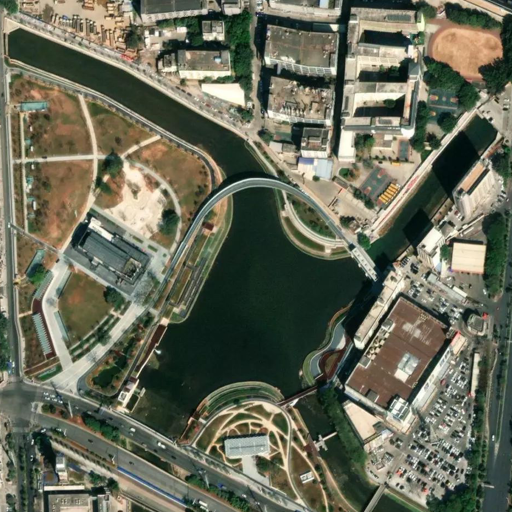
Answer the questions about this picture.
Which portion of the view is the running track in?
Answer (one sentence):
The running track is located in the top right region of the scene.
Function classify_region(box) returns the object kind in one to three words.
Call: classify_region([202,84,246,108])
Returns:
building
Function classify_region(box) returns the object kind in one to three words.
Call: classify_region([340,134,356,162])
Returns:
building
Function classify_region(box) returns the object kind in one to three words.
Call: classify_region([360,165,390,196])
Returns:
basketball court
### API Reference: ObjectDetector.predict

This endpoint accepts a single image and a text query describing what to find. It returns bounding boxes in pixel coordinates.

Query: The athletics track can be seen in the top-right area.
[427,20,510,85]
